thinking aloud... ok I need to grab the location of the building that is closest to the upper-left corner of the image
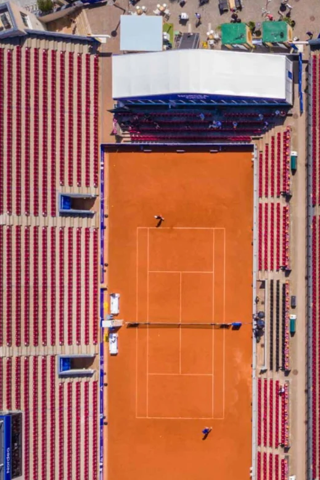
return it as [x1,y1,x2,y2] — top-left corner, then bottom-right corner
[14,6,57,33]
